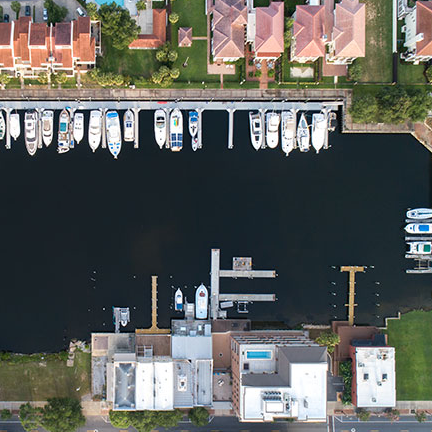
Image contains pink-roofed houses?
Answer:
Yes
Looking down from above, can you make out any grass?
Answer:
Yes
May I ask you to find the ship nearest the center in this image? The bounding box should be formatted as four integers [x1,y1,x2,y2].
[232,257,252,270]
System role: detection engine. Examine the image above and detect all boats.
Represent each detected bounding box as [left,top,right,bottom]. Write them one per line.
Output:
[9,114,21,139]
[123,109,135,143]
[187,111,199,138]
[247,112,262,151]
[153,110,167,150]
[191,136,198,151]
[310,113,329,154]
[296,112,315,153]
[104,111,122,159]
[55,148,70,154]
[0,110,6,141]
[41,111,54,148]
[193,282,209,319]
[57,108,70,148]
[87,111,102,152]
[280,112,296,156]
[24,111,38,156]
[405,208,432,219]
[72,113,85,145]
[169,108,183,152]
[405,241,432,254]
[265,112,280,149]
[174,287,184,311]
[404,222,432,235]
